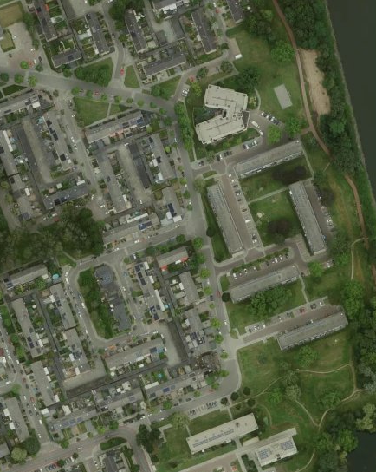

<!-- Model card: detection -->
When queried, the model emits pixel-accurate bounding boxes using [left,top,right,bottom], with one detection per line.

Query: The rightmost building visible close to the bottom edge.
[251,429,297,467]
